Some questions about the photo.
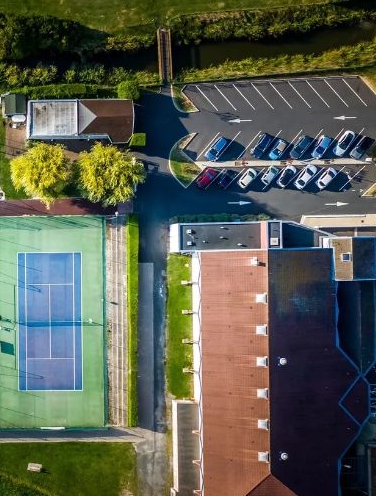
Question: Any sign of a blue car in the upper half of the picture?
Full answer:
Yes, a blue car can be seen in the upper half of the picture.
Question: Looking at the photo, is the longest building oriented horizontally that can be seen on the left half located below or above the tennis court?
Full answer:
From this view, the longest building oriented horizontally that can be seen on the left half can be seen above the tennis court.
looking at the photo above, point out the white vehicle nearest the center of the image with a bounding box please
[236,166,258,189]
